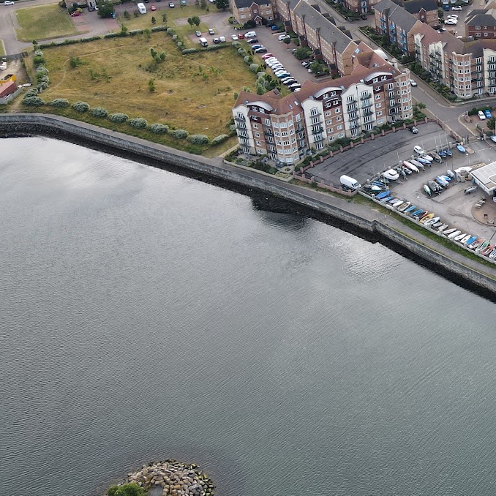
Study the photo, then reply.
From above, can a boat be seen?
Yes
